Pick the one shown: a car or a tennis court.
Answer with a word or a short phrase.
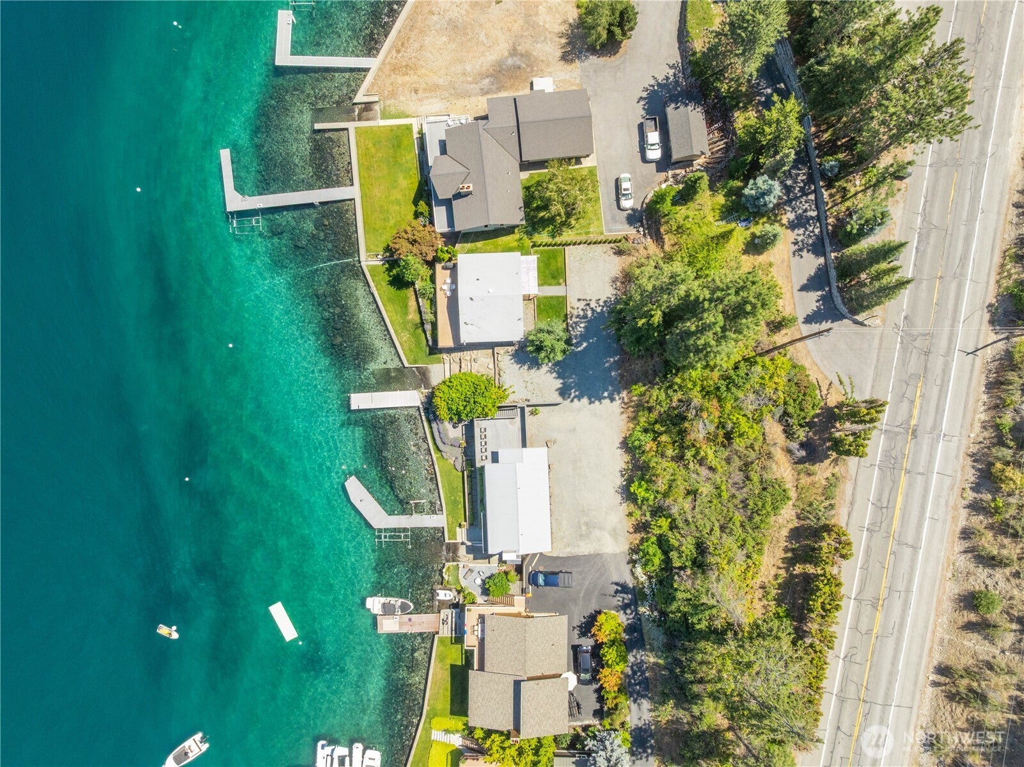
car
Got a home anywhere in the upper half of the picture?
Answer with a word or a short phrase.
Yes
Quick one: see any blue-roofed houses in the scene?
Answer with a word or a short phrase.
No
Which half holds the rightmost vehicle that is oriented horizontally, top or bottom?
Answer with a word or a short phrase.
bottom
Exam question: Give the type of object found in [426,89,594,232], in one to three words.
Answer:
house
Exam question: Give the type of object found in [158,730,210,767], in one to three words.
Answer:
boat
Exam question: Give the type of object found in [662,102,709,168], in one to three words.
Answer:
shed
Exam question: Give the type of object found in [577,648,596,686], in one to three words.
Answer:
car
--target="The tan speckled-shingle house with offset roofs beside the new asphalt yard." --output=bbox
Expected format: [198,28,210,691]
[465,594,568,743]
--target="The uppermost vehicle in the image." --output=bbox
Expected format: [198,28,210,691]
[642,114,663,161]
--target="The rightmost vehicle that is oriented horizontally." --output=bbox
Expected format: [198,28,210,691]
[529,571,574,591]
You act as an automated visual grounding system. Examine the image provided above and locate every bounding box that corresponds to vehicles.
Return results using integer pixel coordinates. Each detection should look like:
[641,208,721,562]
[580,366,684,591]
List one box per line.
[529,571,574,591]
[577,648,596,686]
[618,172,637,209]
[642,114,663,161]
